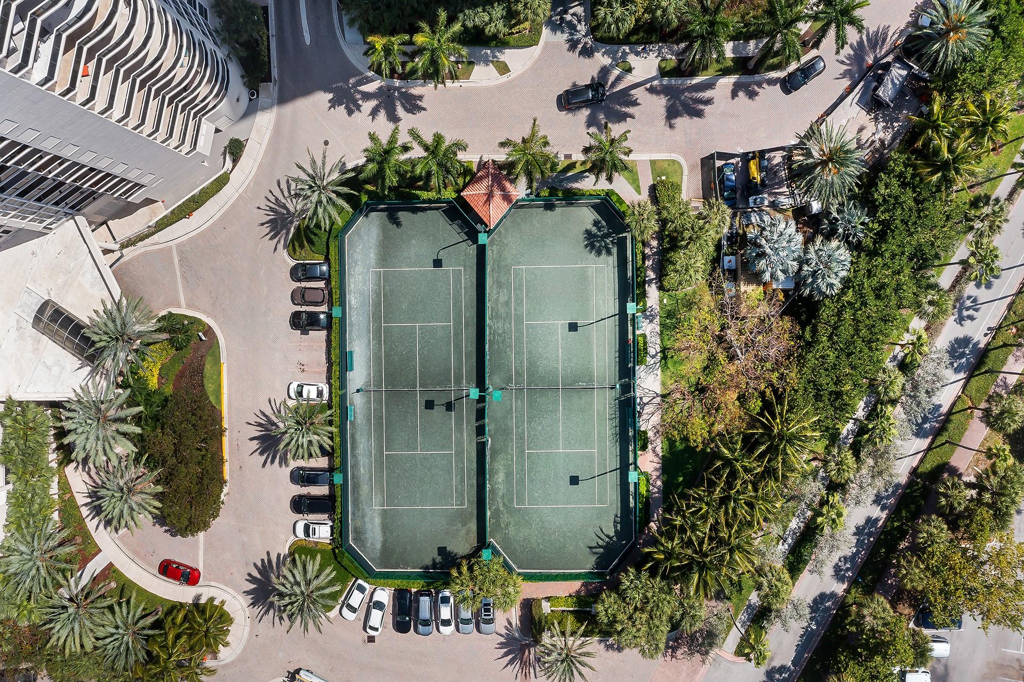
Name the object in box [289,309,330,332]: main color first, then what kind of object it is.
black car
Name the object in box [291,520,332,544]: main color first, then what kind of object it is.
white car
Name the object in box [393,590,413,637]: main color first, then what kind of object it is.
black car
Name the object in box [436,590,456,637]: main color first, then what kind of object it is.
white car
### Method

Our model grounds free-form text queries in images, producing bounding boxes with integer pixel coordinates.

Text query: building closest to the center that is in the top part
[460,159,520,228]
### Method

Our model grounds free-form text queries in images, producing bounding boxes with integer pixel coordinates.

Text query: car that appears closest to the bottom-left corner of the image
[153,559,200,588]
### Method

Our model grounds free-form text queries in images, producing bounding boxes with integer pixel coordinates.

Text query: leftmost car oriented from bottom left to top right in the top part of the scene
[784,51,831,90]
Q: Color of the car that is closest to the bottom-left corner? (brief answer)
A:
red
